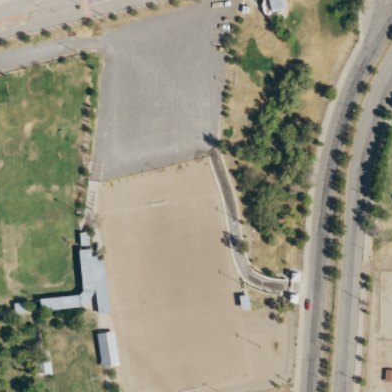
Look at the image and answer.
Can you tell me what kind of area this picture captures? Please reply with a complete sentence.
This image shows a sports ground.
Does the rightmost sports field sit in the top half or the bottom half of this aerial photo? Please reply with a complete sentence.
The rightmost sports field is in the bottom half of the image.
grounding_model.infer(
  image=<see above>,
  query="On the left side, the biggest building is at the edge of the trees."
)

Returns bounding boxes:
[40,248,111,313]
